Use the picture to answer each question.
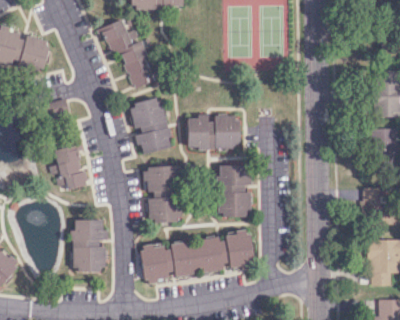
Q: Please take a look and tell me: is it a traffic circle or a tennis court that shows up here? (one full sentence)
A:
Looking from above, you can make out a tennis court.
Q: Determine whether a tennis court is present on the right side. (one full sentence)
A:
Yes, a tennis court shows up on the right side.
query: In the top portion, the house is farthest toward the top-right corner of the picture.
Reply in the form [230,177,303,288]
[377,83,400,117]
